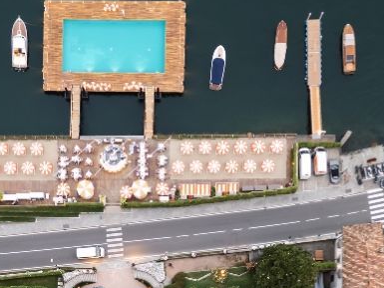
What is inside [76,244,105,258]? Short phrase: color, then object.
white vehicle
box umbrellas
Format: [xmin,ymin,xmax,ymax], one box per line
[22,162,34,175]
[58,183,70,197]
[155,183,169,197]
[3,162,16,176]
[40,162,52,175]
[12,143,26,156]
[119,187,132,199]
[0,143,9,156]
[131,180,151,200]
[190,160,203,174]
[243,160,256,174]
[172,161,185,174]
[30,143,43,156]
[234,141,247,155]
[180,141,194,155]
[208,160,221,173]
[251,140,265,154]
[198,141,212,155]
[76,180,94,200]
[225,161,238,174]
[217,141,229,155]
[270,141,283,155]
[261,161,275,174]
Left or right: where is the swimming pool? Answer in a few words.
left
